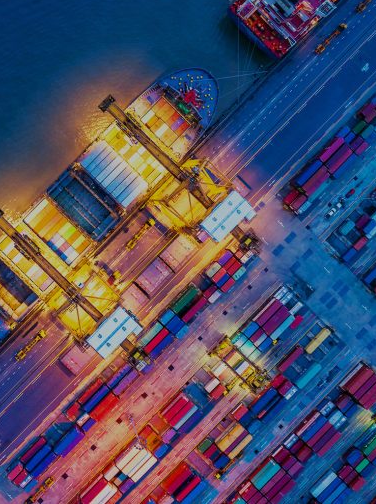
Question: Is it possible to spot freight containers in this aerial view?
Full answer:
Yes, the picture does show a freight container.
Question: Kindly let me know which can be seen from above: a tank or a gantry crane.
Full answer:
There is a gantry crane in the scene.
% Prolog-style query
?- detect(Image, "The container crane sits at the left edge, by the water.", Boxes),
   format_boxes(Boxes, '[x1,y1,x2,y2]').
[0,208,150,361]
